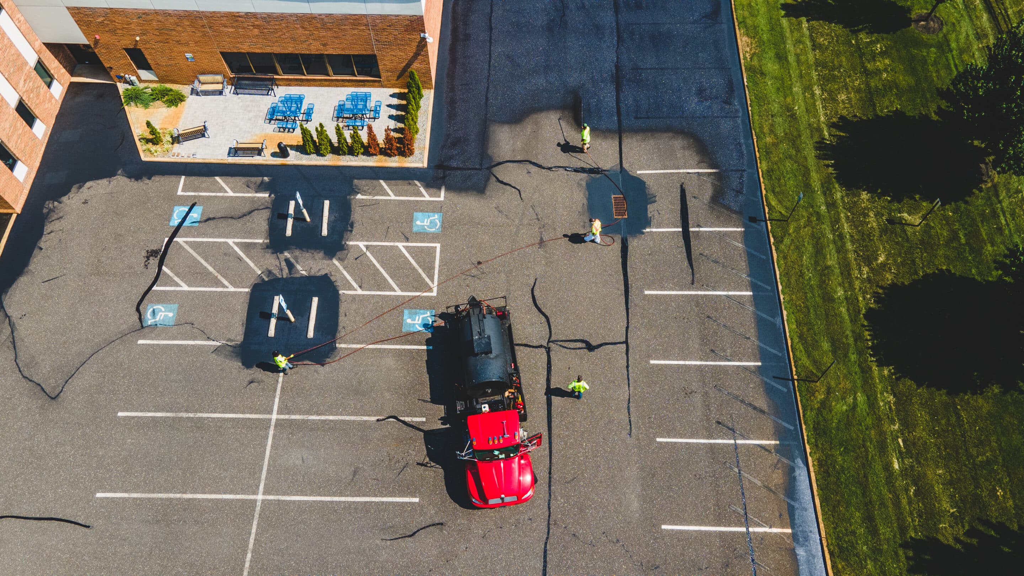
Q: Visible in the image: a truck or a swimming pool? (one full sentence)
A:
This aerial view contains a truck.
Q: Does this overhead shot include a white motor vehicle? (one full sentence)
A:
No, no white motor vehicle is visible in the view.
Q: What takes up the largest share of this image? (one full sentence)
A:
Most of the picture is covered by paved ground.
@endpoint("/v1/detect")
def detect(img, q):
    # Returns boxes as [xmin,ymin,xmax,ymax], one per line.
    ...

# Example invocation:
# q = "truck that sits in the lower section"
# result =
[445,296,545,509]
